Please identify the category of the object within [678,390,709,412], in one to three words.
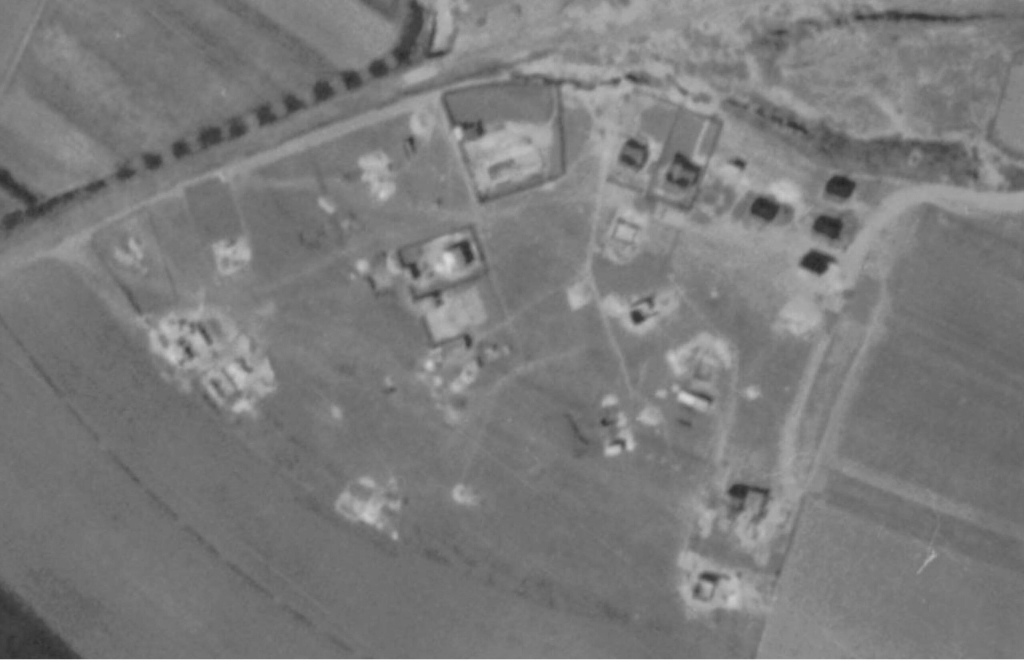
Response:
barn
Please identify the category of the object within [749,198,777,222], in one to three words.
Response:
house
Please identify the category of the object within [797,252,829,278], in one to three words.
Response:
house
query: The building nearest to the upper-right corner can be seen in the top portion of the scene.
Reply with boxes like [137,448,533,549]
[824,177,854,201]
